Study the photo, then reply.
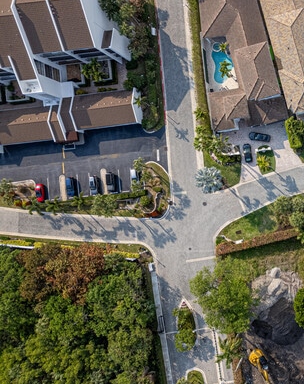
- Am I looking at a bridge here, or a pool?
pool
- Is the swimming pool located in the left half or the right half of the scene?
right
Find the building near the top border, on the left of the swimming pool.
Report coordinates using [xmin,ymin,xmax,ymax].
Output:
[0,0,131,110]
